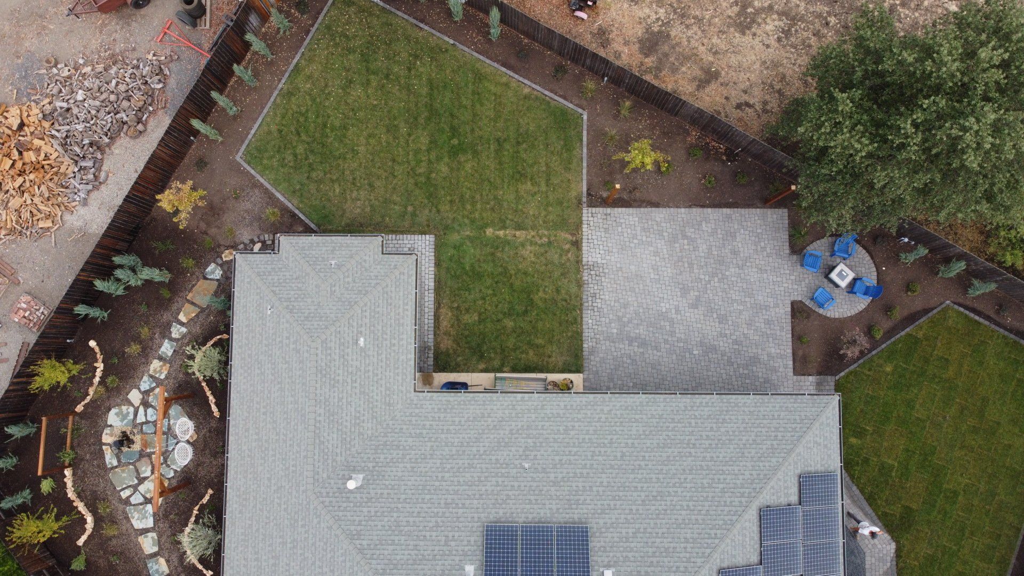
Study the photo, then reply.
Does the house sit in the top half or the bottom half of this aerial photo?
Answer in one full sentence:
The house sits in the bottom half of the picture.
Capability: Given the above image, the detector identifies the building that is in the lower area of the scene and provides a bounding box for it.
[222,234,846,576]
